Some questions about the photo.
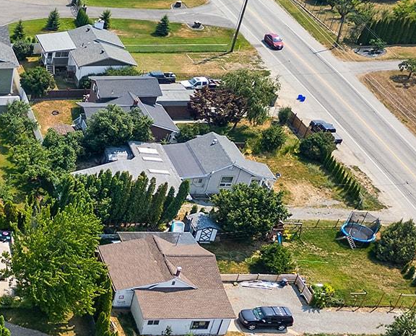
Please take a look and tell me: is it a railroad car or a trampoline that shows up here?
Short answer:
trampoline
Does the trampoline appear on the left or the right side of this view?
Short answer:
right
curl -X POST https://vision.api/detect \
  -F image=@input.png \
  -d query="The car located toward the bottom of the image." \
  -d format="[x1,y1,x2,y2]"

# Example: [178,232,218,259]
[238,306,299,333]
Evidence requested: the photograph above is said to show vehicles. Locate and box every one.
[238,306,299,333]
[310,117,340,141]
[265,32,284,46]
[179,74,219,87]
[143,68,184,83]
